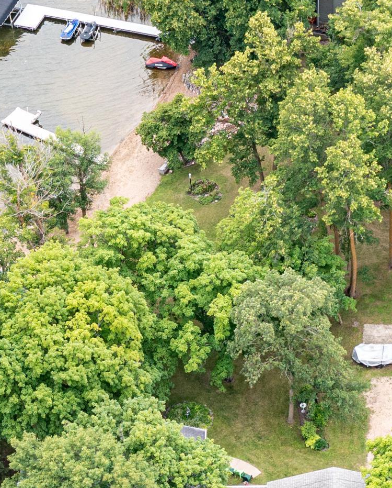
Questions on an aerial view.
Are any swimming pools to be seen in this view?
No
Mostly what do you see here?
trees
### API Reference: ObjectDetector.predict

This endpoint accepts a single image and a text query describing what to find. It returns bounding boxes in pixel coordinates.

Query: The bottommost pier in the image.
[1,106,68,150]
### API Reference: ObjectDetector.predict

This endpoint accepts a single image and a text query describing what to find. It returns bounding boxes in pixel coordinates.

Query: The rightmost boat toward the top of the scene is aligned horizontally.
[147,57,177,70]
